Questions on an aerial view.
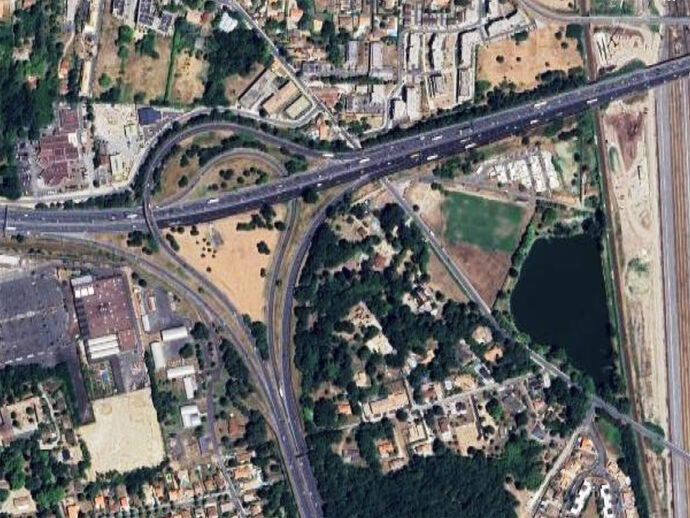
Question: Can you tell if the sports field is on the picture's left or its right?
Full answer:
The sports field appears in the right half of the scene.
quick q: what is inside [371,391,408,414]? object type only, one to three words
house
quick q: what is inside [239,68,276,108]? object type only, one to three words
building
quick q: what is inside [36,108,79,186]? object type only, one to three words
building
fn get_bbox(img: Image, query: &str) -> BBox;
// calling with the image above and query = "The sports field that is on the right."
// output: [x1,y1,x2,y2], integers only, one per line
[441,191,526,252]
